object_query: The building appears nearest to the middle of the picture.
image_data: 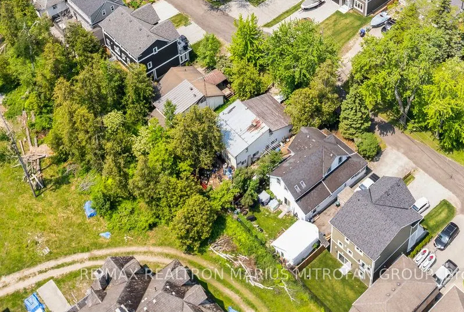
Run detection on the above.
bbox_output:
[214,95,288,162]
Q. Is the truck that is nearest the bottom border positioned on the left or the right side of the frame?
right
